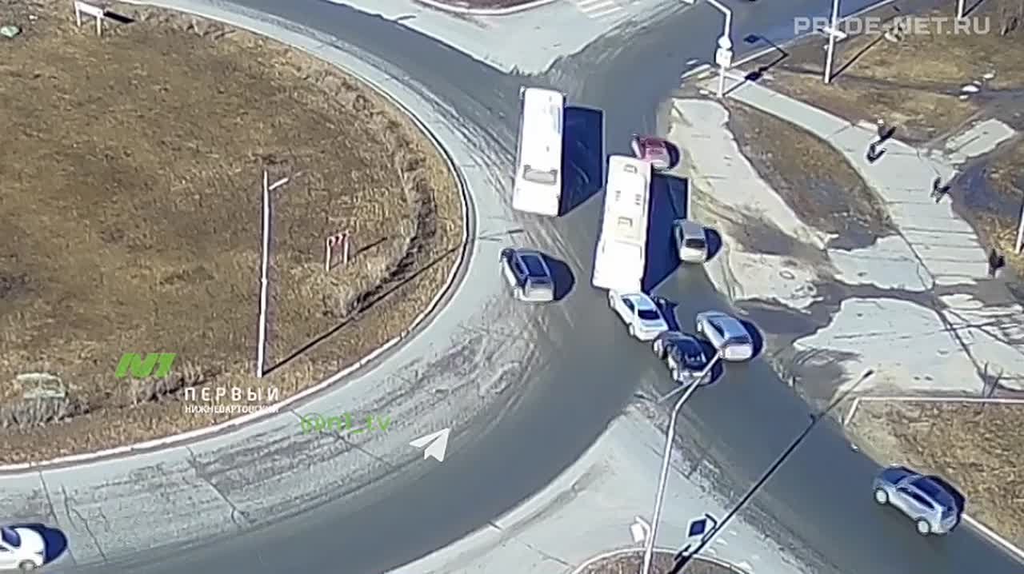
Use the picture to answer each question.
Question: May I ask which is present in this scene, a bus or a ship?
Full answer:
Looking from above, you can make out a bus.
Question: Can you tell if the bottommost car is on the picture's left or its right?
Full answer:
It is on the left.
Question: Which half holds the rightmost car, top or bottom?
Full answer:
It is in the bottom half that the rightmost car appears.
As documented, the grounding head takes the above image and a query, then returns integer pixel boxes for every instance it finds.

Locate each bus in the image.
[593,155,658,290]
[514,87,568,214]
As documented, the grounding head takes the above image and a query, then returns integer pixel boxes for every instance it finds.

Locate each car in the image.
[627,134,671,169]
[873,470,966,535]
[504,251,556,298]
[699,313,754,359]
[610,289,669,336]
[0,525,48,572]
[672,222,711,261]
[655,335,715,384]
